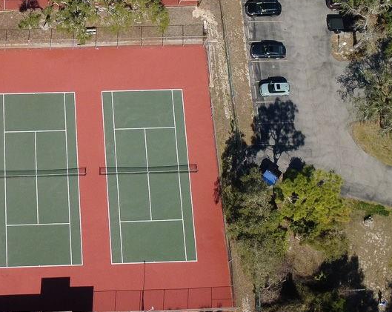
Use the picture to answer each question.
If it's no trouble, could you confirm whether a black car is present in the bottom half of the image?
No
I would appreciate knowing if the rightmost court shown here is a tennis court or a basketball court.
tennis court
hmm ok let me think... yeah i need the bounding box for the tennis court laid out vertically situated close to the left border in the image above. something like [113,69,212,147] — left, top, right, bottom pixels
[0,91,83,269]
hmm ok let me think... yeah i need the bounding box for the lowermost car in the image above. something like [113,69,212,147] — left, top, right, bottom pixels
[260,79,292,97]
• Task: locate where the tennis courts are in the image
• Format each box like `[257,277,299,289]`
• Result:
[101,89,198,264]
[0,91,83,269]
